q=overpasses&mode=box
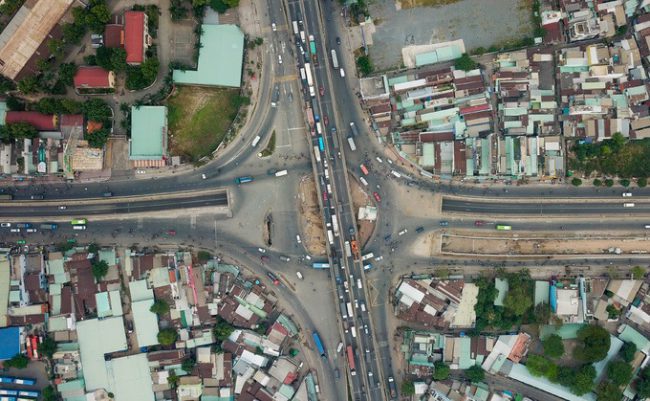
[286,0,387,401]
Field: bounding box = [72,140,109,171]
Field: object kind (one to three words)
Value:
house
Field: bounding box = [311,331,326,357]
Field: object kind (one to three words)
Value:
vehicle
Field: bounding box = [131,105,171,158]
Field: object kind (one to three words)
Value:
house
